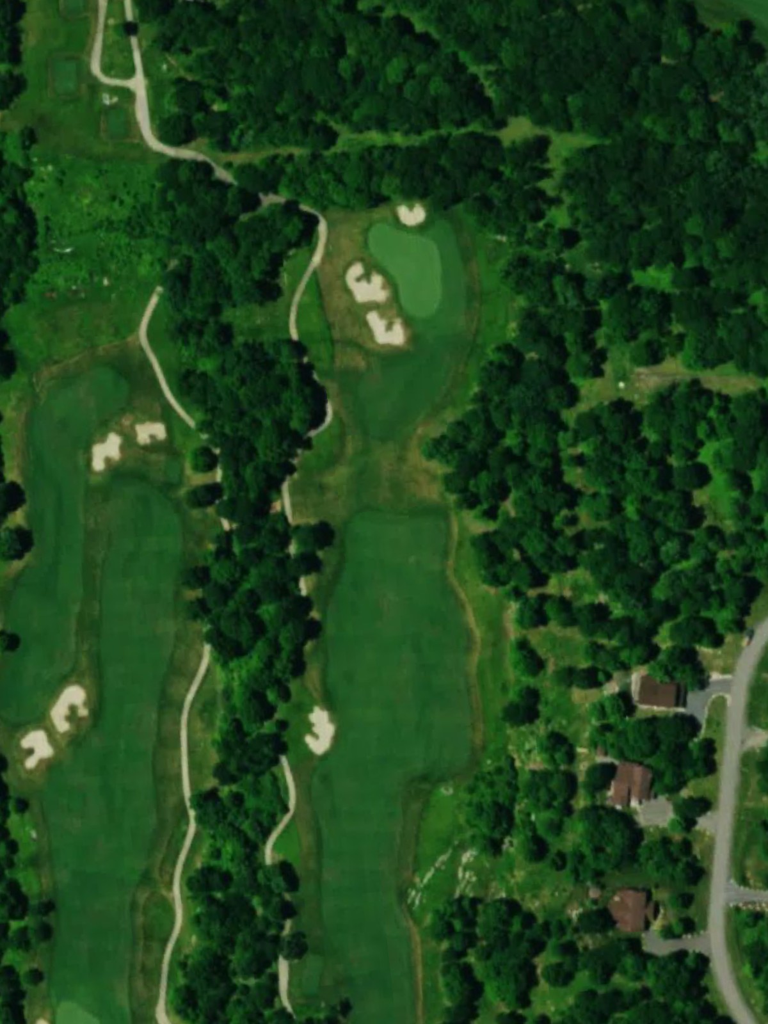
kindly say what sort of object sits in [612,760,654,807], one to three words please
house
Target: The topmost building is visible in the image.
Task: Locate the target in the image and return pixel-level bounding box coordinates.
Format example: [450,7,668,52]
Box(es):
[632,671,682,708]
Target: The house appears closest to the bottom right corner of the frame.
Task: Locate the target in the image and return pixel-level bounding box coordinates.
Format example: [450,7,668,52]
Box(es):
[608,890,654,932]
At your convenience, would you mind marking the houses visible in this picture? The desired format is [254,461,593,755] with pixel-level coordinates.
[612,760,654,807]
[608,890,654,932]
[632,671,682,708]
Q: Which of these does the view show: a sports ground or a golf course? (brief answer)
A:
golf course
